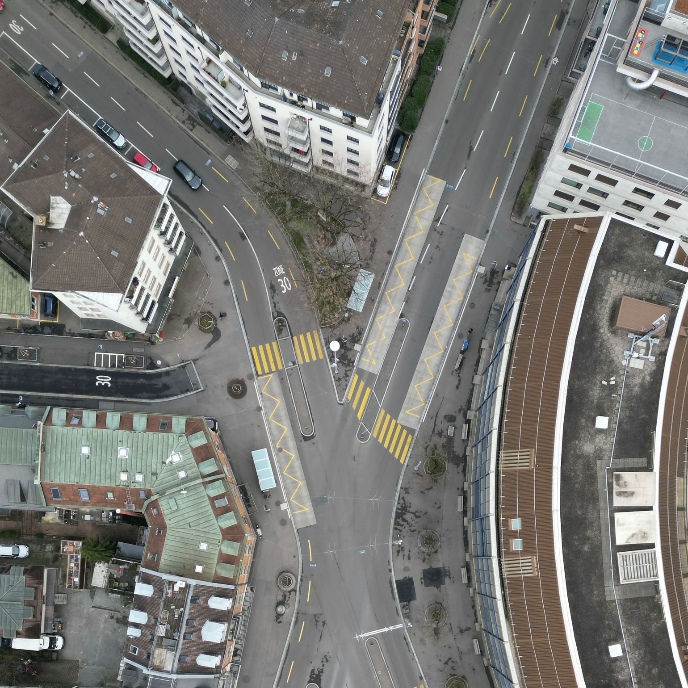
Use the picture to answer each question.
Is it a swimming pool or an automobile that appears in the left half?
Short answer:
automobile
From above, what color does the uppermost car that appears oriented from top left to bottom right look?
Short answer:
black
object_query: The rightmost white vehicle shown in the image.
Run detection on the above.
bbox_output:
[376,163,398,200]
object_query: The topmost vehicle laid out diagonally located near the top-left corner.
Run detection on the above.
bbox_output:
[31,61,67,96]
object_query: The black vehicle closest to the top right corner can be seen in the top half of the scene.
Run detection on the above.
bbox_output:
[385,130,409,166]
